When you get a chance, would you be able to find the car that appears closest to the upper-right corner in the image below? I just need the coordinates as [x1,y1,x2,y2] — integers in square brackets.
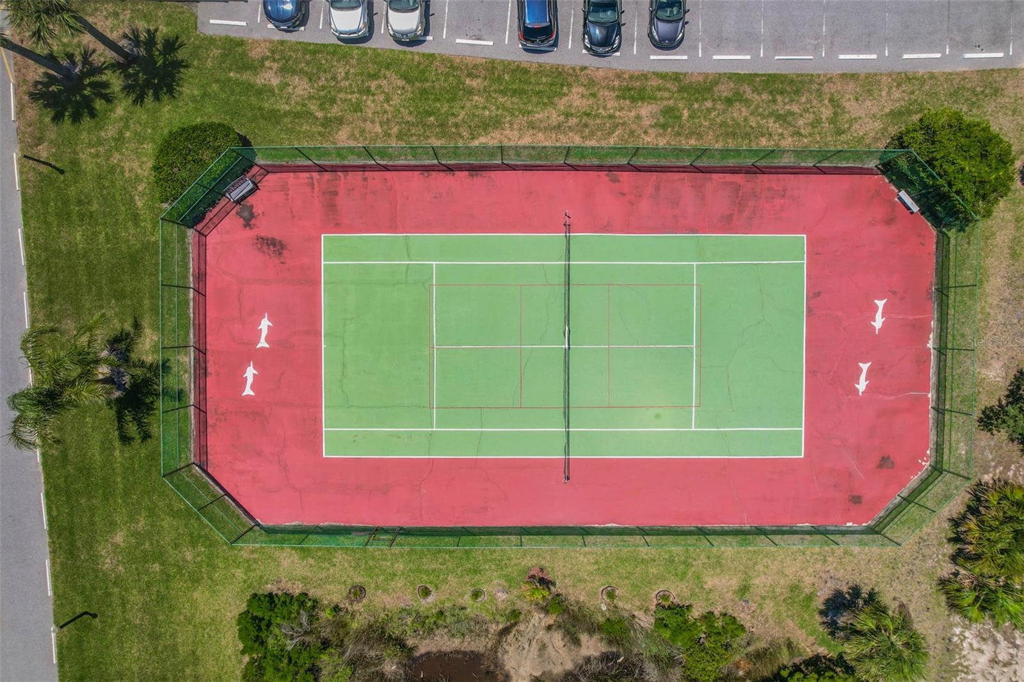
[647,0,692,48]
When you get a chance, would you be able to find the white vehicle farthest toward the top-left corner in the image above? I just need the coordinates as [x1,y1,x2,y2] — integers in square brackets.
[328,0,371,39]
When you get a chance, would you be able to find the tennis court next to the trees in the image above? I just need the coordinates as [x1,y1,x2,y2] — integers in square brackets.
[189,159,939,531]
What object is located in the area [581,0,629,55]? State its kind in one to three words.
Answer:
car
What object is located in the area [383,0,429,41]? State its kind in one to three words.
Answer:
car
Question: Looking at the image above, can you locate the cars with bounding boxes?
[647,0,692,48]
[581,0,629,55]
[519,0,559,49]
[263,0,305,29]
[383,0,429,41]
[328,0,371,39]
